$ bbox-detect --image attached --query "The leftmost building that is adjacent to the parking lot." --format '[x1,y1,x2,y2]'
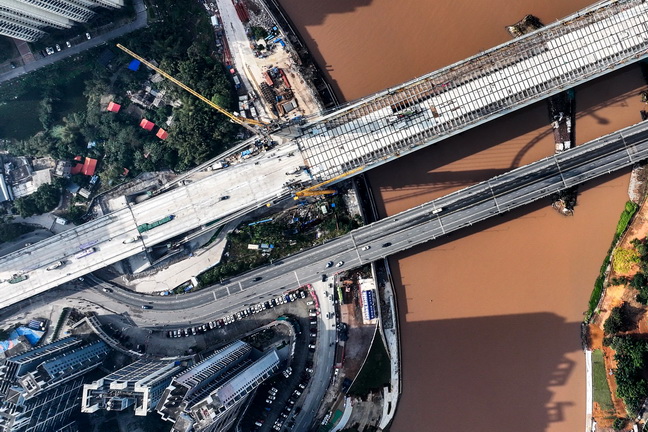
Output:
[0,336,111,432]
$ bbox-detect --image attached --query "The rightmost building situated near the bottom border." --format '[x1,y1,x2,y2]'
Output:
[149,334,287,432]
